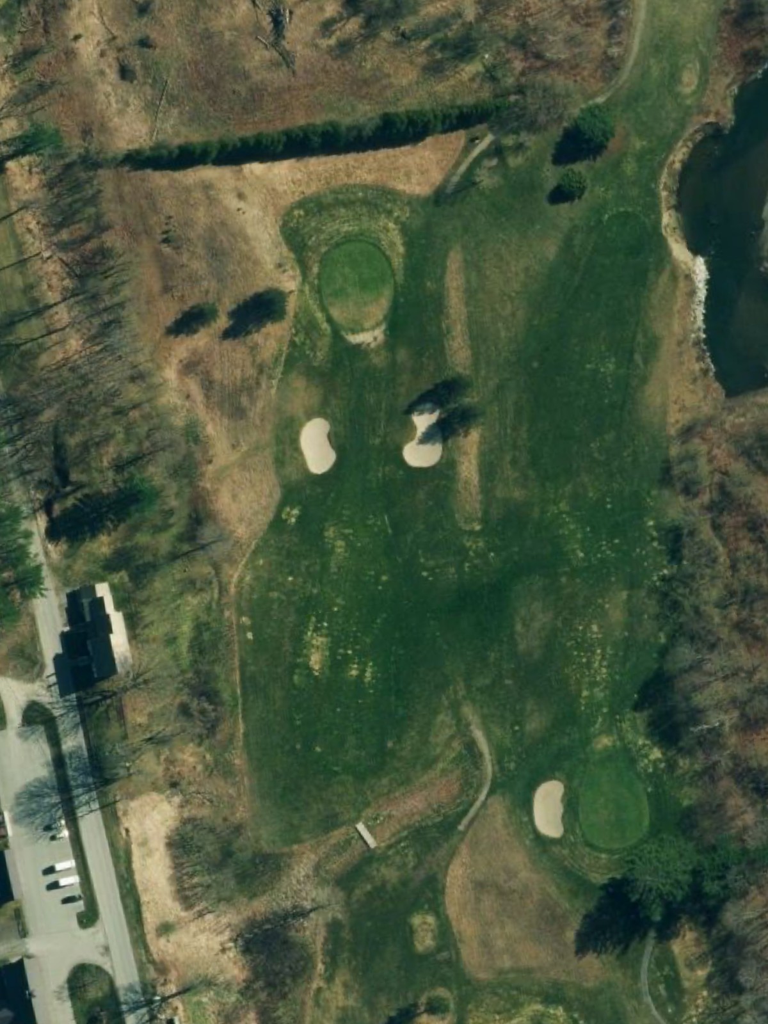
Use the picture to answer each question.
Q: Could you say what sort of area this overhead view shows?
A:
golf course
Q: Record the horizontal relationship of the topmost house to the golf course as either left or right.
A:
to its left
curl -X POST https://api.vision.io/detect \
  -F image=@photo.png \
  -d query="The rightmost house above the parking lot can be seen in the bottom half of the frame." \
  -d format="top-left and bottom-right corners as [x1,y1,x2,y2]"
[82,579,134,678]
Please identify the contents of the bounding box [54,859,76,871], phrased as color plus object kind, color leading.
white vehicle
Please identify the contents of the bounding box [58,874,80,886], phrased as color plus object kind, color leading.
white vehicle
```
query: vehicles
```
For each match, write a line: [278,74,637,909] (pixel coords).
[58,874,80,886]
[66,894,83,903]
[49,819,67,829]
[53,829,70,839]
[54,859,76,871]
